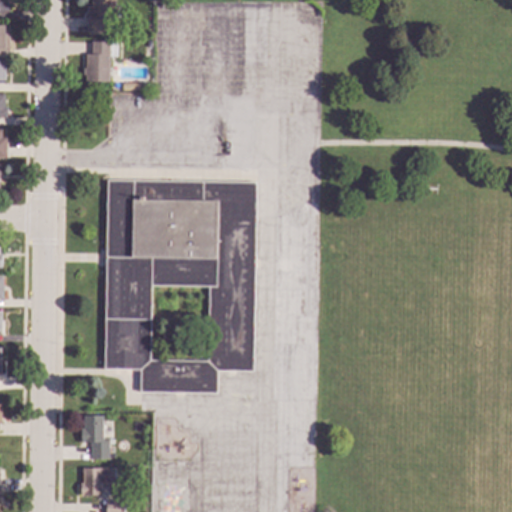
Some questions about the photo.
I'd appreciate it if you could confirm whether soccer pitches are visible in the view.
No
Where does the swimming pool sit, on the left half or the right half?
left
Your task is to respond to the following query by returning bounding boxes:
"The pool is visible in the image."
[112,60,150,83]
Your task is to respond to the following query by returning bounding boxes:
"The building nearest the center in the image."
[104,180,257,392]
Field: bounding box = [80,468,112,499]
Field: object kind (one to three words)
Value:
house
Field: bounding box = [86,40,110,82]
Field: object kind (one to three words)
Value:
house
